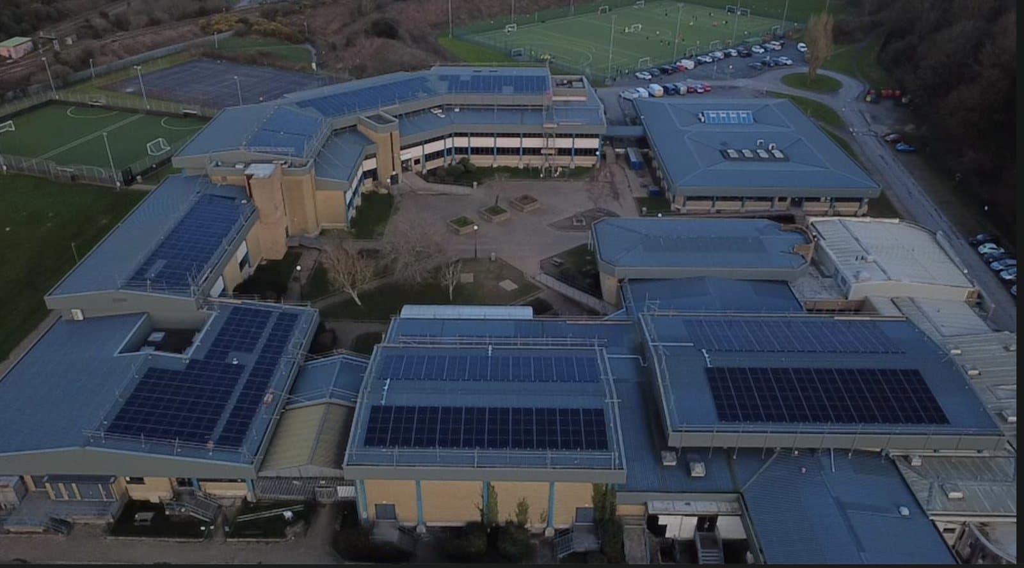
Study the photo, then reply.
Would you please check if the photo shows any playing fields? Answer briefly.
Yes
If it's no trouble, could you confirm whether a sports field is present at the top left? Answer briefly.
Yes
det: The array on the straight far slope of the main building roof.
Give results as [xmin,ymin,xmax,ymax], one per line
[454,73,547,93]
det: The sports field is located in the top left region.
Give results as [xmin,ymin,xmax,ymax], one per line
[0,101,210,181]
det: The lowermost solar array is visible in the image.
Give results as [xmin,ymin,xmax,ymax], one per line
[361,403,609,455]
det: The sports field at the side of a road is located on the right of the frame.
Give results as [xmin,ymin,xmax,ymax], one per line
[463,0,803,78]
